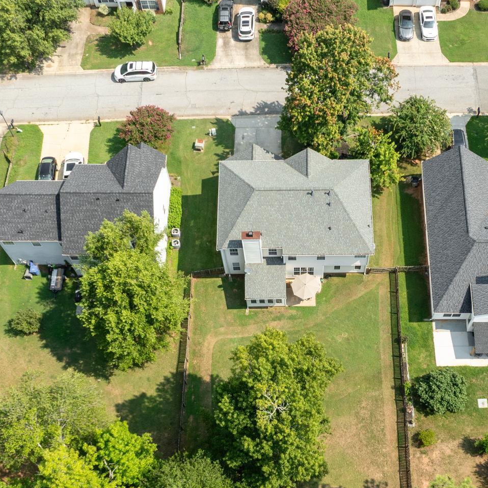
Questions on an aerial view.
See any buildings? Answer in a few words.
Yes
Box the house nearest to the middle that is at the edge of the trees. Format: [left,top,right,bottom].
[215,144,375,315]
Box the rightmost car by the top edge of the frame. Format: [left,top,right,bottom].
[419,6,440,42]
